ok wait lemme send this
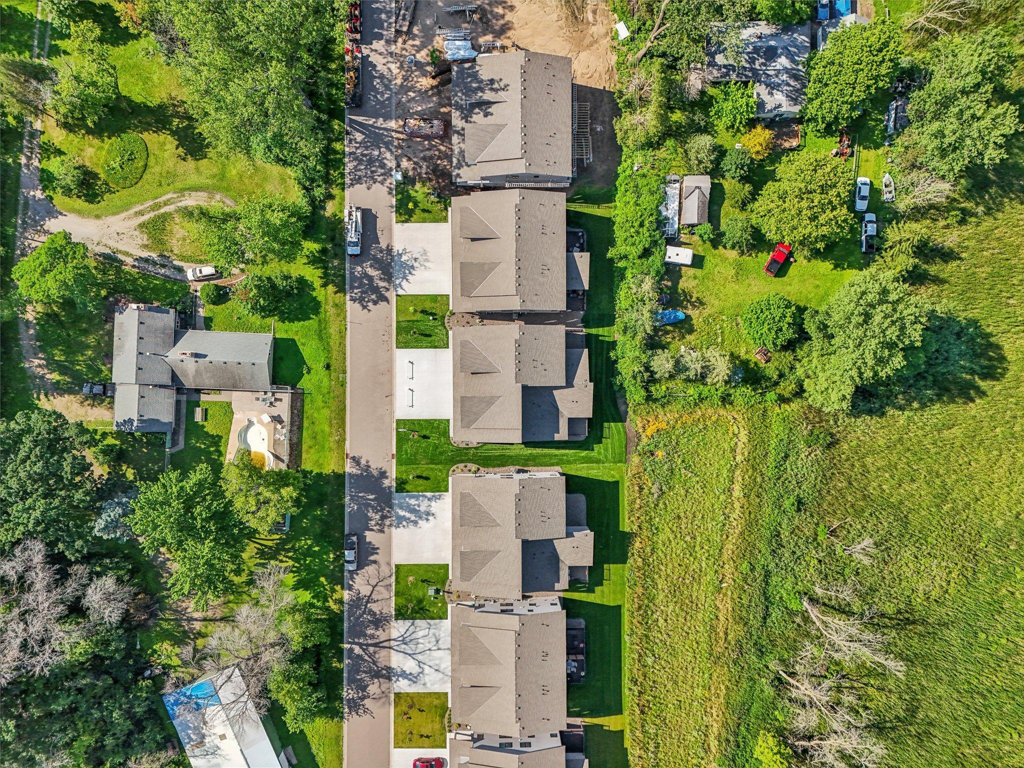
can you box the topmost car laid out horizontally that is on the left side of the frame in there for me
[188,265,220,281]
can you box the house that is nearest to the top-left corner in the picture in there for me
[113,304,278,432]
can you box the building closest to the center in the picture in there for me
[451,324,595,444]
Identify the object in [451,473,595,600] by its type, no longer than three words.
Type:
house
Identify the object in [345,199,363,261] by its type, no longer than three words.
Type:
vehicle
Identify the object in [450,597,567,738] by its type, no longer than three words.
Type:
house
